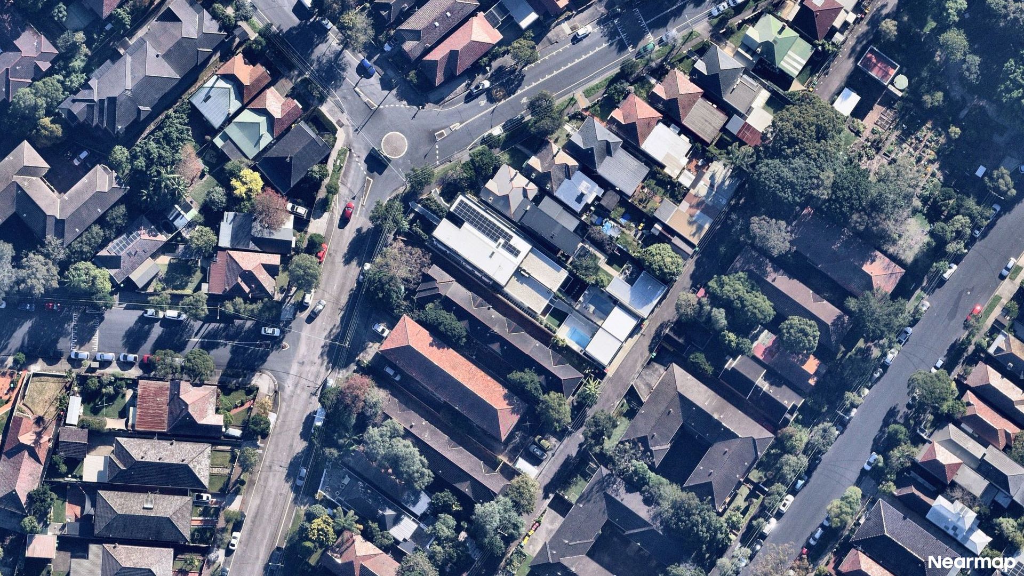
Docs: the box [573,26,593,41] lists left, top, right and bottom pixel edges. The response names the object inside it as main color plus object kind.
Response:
white car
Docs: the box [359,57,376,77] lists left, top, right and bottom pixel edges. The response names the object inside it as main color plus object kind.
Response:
blue car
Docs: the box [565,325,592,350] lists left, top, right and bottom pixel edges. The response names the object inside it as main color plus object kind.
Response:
blue swimming pool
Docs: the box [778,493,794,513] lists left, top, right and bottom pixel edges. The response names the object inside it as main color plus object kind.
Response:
white car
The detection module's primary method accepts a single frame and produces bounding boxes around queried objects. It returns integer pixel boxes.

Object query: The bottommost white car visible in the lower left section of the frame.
[228,530,241,551]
